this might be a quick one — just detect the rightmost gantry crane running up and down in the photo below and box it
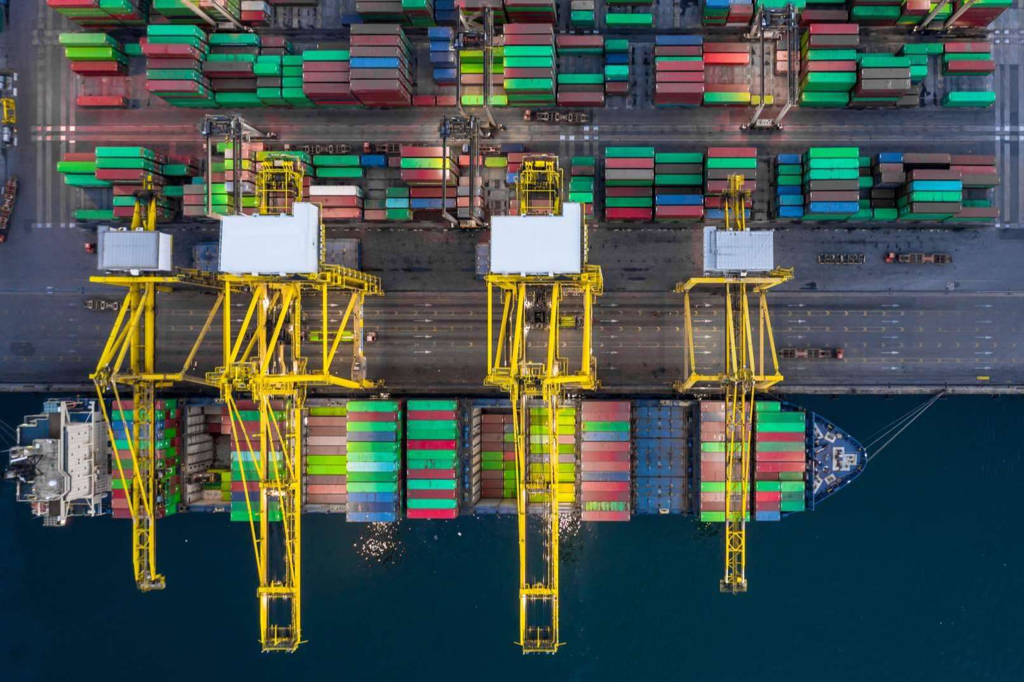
[741,6,801,130]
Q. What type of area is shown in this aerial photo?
port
